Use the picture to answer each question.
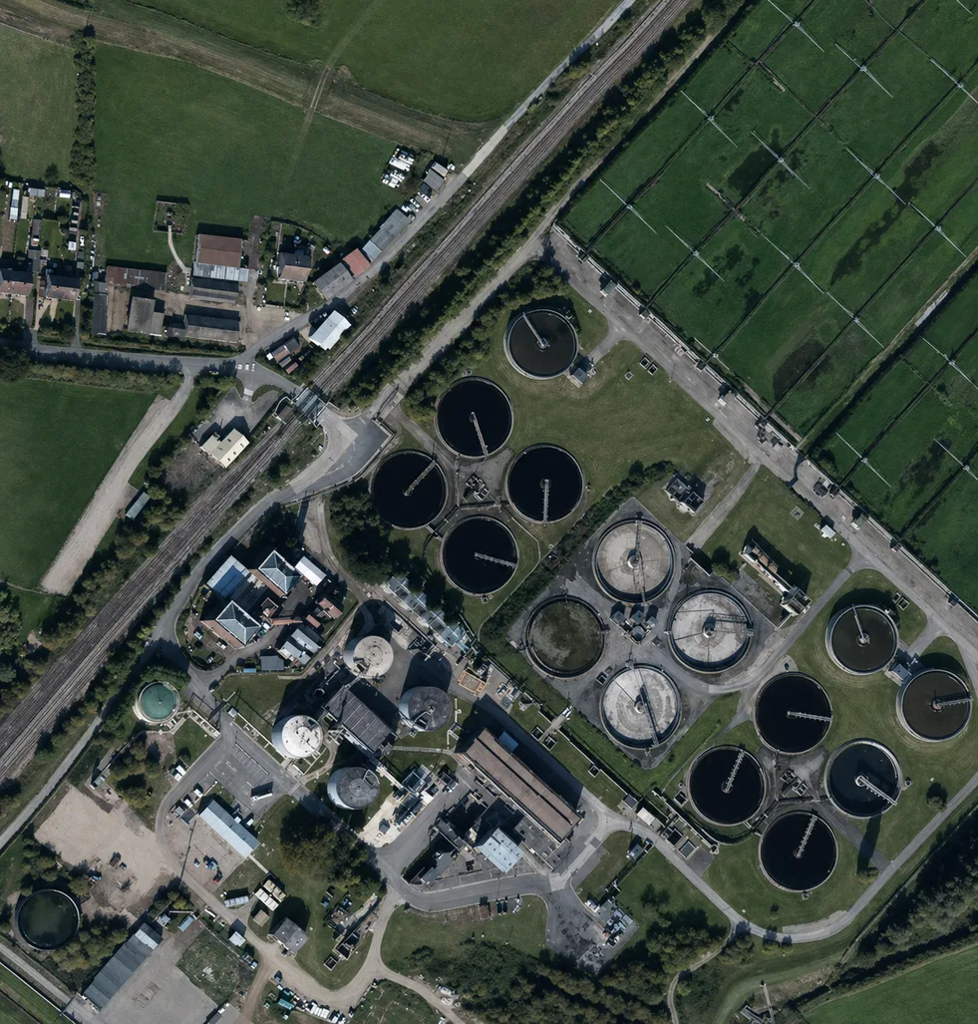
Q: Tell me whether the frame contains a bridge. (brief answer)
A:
Yes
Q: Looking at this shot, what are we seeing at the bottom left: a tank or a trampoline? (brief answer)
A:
tank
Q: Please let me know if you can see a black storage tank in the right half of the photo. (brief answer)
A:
Yes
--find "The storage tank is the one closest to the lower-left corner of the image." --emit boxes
[12,888,81,956]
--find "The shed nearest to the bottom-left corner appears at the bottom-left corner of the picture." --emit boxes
[81,936,151,1010]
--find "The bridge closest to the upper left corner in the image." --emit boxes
[293,388,326,428]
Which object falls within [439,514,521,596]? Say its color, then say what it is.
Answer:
black storage tank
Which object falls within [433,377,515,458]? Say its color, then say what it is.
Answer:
black storage tank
